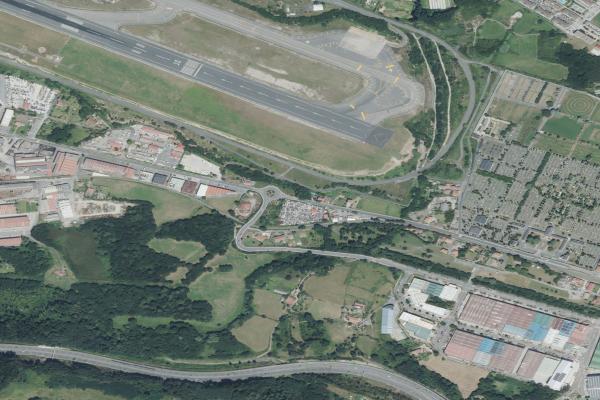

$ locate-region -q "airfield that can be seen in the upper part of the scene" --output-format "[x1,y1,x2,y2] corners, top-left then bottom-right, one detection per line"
[0,0,426,174]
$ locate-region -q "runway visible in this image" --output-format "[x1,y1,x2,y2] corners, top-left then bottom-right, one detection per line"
[1,0,376,143]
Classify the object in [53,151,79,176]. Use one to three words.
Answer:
shed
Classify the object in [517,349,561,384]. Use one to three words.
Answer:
building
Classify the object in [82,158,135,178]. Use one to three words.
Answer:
shed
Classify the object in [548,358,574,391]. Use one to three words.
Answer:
building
